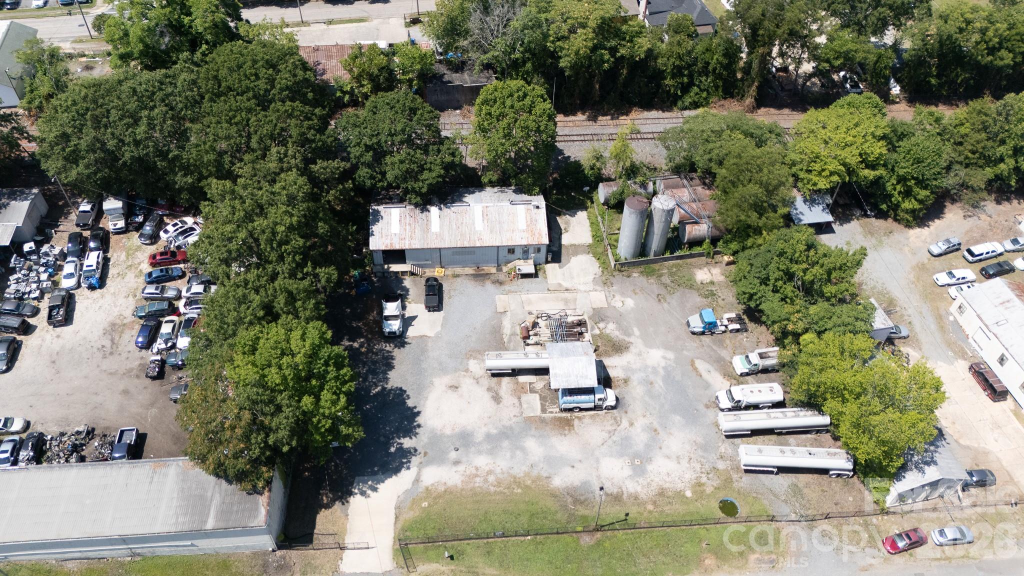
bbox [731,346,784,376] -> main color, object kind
white truck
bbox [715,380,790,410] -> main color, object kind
white truck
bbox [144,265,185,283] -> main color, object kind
blue car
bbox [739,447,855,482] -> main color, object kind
white trailer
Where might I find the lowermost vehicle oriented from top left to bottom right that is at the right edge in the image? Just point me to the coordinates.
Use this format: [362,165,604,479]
[966,363,1009,400]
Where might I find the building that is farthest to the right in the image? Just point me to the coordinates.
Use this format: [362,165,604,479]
[949,274,1024,410]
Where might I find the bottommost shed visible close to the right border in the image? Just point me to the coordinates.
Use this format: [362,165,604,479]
[886,433,978,505]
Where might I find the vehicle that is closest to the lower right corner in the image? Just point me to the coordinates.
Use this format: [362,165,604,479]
[929,525,977,548]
